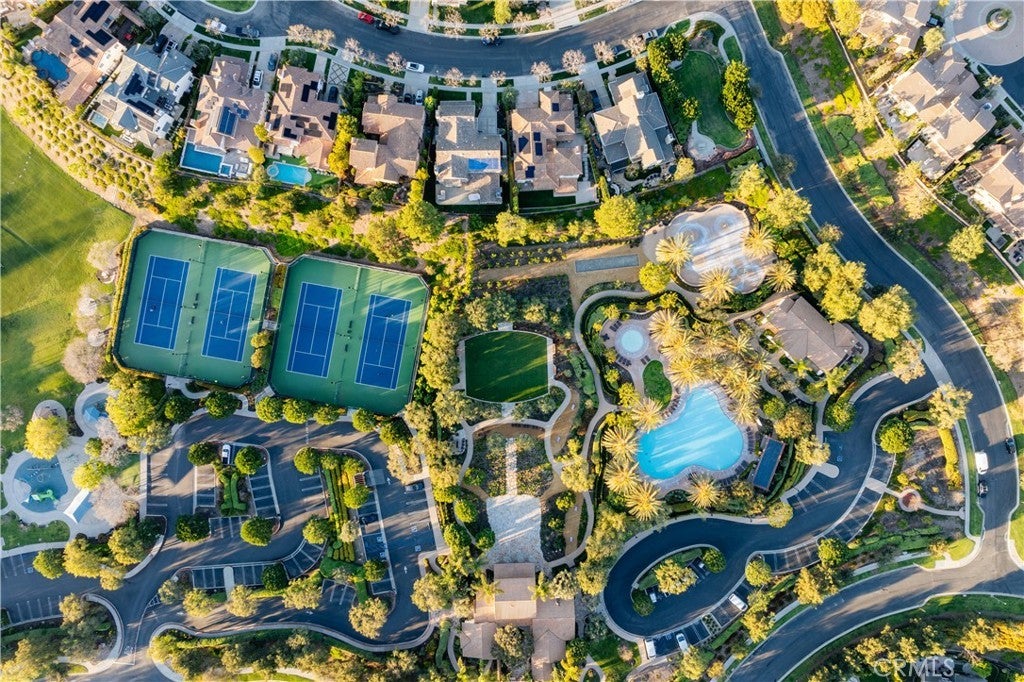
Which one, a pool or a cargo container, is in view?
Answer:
pool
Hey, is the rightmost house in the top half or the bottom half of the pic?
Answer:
top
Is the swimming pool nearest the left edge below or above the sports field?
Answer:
above it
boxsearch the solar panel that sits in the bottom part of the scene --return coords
[756,439,781,488]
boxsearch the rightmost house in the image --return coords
[960,121,1024,239]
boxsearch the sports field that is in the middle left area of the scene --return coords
[0,106,134,459]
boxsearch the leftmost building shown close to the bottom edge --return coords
[461,559,576,682]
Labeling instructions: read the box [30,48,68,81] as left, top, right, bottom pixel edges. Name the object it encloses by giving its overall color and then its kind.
blue swimming pool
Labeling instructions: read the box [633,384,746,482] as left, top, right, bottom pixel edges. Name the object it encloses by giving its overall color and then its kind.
blue swimming pool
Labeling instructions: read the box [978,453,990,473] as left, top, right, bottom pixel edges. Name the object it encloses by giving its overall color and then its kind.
white vehicle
